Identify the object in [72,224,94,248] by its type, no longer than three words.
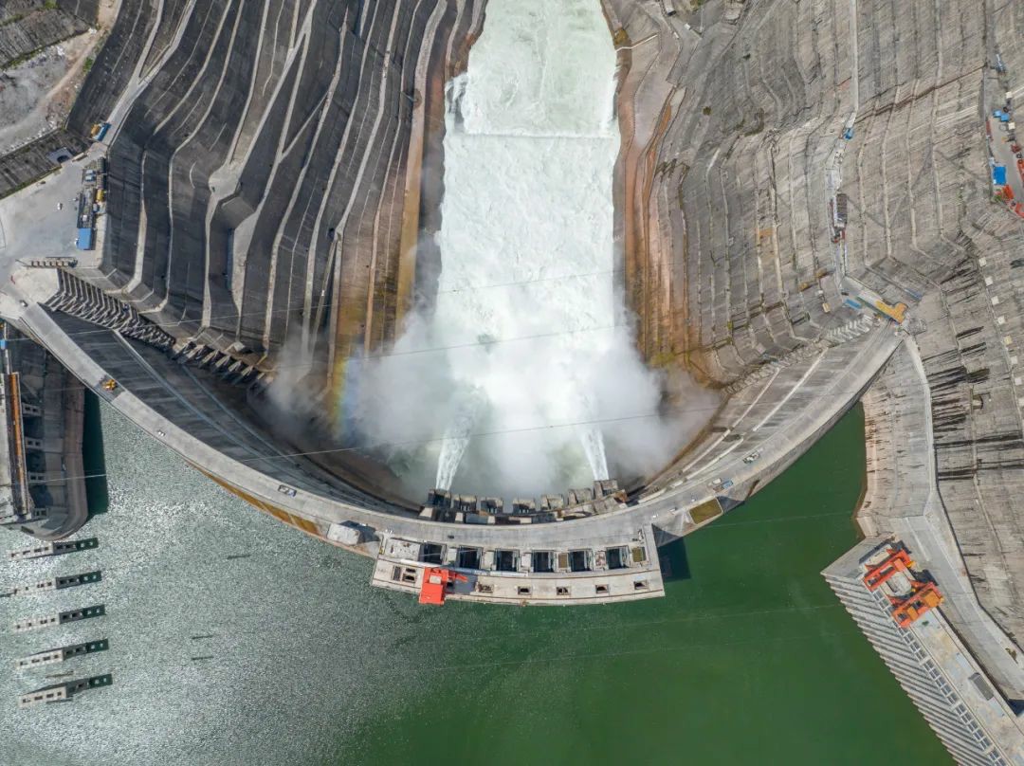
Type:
shed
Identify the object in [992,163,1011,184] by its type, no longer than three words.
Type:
shed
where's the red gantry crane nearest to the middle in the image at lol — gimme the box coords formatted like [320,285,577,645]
[421,566,466,605]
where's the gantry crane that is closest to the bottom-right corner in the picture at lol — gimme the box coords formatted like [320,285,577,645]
[850,547,948,628]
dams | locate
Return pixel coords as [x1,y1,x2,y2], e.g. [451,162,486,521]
[0,278,914,606]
